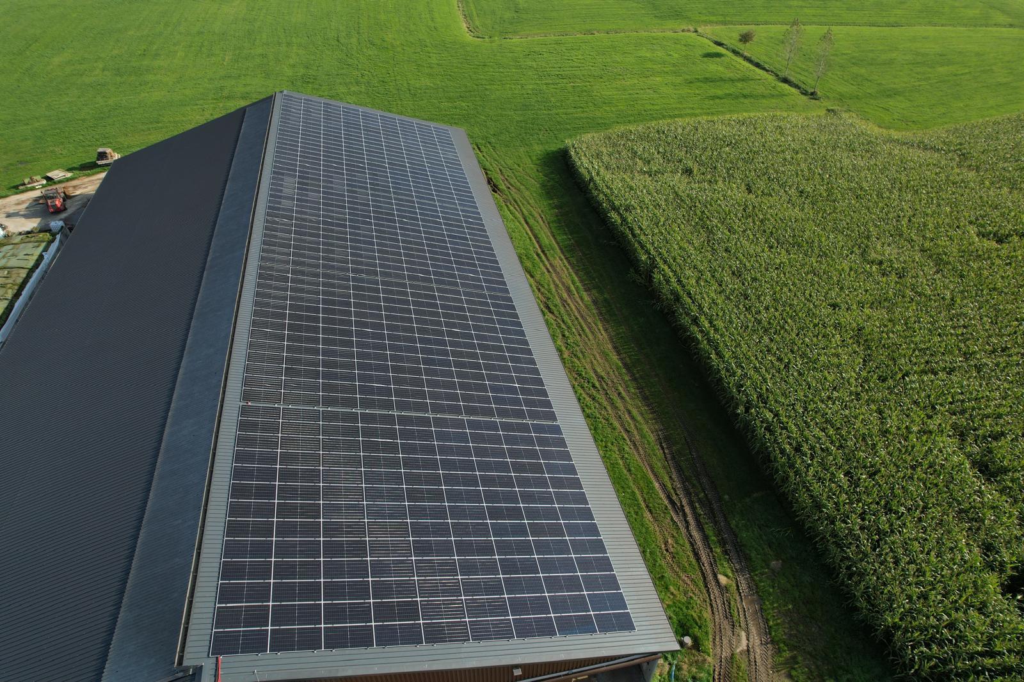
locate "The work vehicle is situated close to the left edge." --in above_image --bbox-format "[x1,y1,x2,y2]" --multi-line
[40,181,73,211]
